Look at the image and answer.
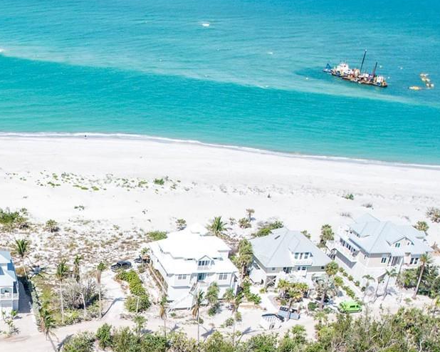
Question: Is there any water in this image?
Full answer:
Yes, there's water in this view.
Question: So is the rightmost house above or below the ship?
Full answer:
You can see the rightmost house below the ship in the frame.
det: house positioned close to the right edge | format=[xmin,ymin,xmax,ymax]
[329,213,438,297]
